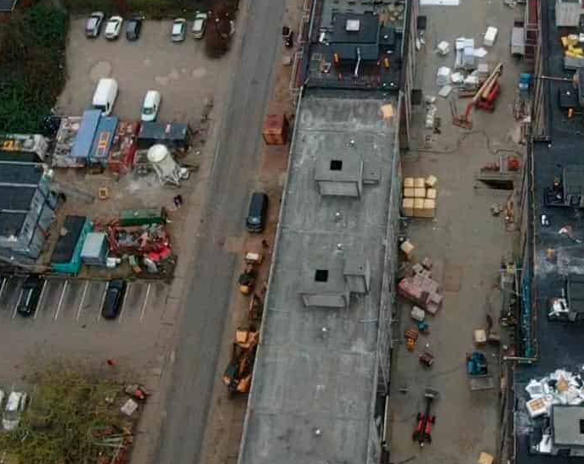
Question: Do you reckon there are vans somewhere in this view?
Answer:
Yes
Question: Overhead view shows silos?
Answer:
Yes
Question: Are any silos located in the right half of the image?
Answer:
No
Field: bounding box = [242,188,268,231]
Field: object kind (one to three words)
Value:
vehicle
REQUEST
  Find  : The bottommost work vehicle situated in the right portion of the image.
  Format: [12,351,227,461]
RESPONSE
[410,381,438,448]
